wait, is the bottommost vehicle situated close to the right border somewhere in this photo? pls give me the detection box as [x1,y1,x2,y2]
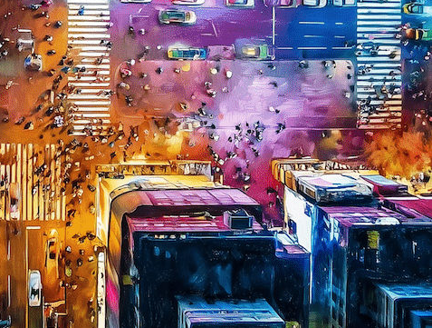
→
[399,25,431,42]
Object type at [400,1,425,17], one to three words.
car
